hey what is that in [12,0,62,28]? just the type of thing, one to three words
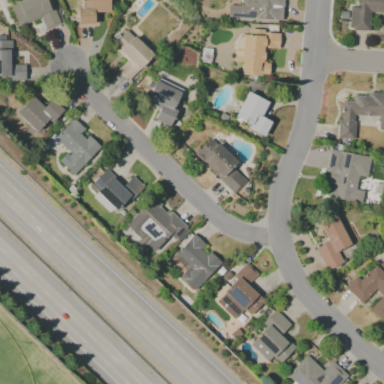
house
